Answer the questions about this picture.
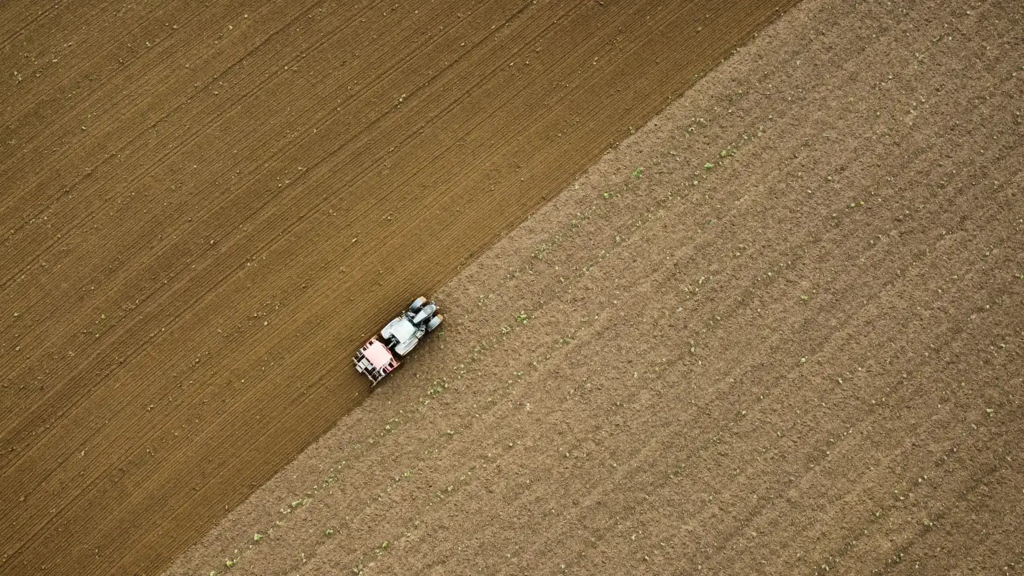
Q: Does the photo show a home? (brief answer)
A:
No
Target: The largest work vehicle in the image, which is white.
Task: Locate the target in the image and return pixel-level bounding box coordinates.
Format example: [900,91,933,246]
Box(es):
[380,296,443,356]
